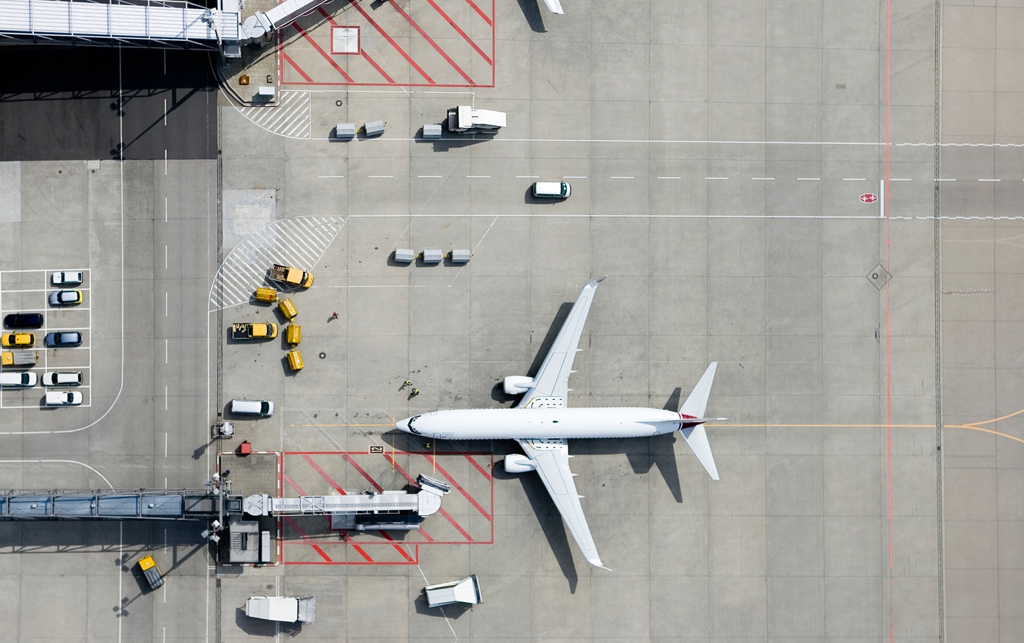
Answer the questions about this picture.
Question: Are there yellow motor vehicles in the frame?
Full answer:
Yes, a yellow motor vehicle can be made out from above.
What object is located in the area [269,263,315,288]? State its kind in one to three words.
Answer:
truck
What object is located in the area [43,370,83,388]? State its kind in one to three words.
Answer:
car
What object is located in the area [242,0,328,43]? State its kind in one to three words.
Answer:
jet bridge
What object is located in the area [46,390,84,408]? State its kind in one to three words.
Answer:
vehicle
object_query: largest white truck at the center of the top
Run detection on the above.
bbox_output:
[448,106,506,135]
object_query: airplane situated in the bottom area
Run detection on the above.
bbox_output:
[396,275,726,571]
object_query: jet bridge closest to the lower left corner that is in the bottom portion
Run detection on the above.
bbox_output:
[245,474,453,530]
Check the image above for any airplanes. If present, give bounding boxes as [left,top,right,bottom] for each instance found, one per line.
[544,0,563,14]
[396,275,726,571]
